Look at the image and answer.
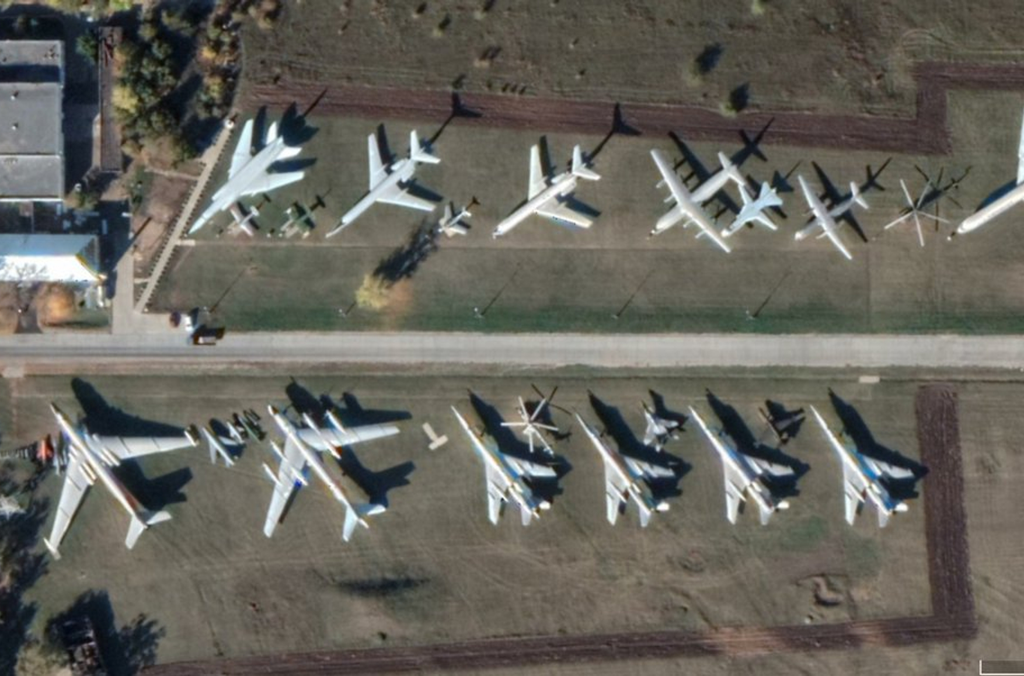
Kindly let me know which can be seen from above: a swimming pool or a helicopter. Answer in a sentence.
I can see a helicopter in this picture.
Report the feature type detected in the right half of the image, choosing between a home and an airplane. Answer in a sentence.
You can see an airplane in the right half of the image.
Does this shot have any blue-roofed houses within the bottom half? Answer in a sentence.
No, within the bottom half there is no blue-roofed house.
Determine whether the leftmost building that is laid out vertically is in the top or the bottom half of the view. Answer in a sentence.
You can find the leftmost building that is laid out vertically in the top half.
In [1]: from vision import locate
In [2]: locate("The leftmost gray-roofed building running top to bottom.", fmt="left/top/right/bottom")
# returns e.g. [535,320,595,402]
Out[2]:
[0,39,65,200]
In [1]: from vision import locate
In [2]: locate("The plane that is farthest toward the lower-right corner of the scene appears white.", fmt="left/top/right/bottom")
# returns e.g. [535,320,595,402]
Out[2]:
[810,405,915,527]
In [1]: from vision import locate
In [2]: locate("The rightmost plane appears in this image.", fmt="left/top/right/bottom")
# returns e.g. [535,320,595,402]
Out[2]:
[957,121,1024,232]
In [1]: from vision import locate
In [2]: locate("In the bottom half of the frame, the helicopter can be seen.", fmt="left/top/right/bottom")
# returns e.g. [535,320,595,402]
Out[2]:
[501,397,559,460]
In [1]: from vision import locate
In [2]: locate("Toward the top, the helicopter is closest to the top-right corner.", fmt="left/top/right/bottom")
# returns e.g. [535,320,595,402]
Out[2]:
[885,172,963,246]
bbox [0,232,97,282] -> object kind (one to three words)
house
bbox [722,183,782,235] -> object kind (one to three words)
airplane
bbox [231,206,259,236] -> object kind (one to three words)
airplane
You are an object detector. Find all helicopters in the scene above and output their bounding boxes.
[885,172,963,246]
[501,397,559,460]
